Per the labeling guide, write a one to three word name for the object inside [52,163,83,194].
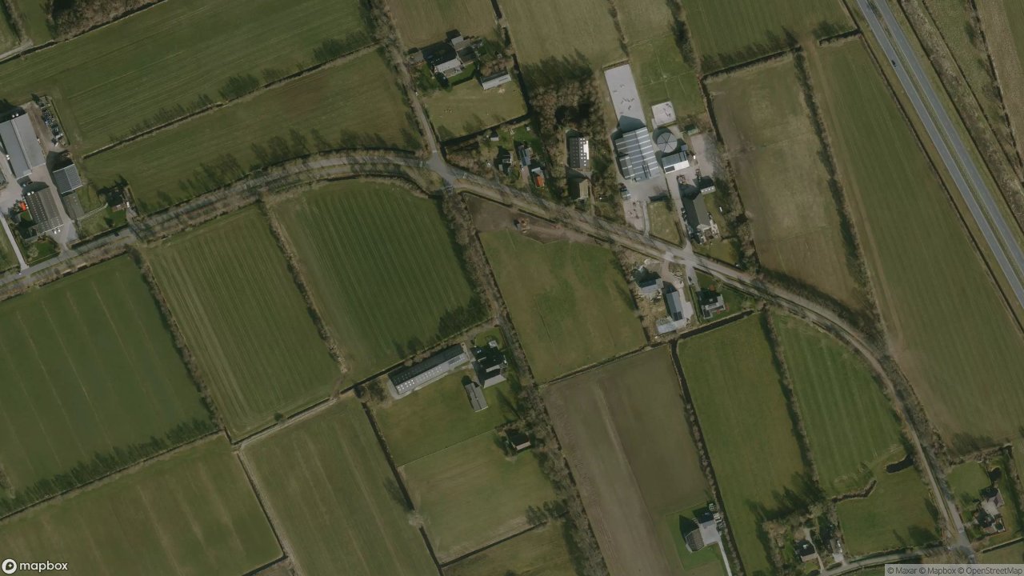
barn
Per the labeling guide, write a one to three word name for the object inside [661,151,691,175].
building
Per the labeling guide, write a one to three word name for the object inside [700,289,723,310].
house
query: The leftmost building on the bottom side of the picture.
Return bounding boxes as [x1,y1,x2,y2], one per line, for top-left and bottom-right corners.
[392,346,468,393]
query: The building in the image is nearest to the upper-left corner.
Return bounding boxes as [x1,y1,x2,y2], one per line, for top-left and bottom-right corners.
[0,113,46,175]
